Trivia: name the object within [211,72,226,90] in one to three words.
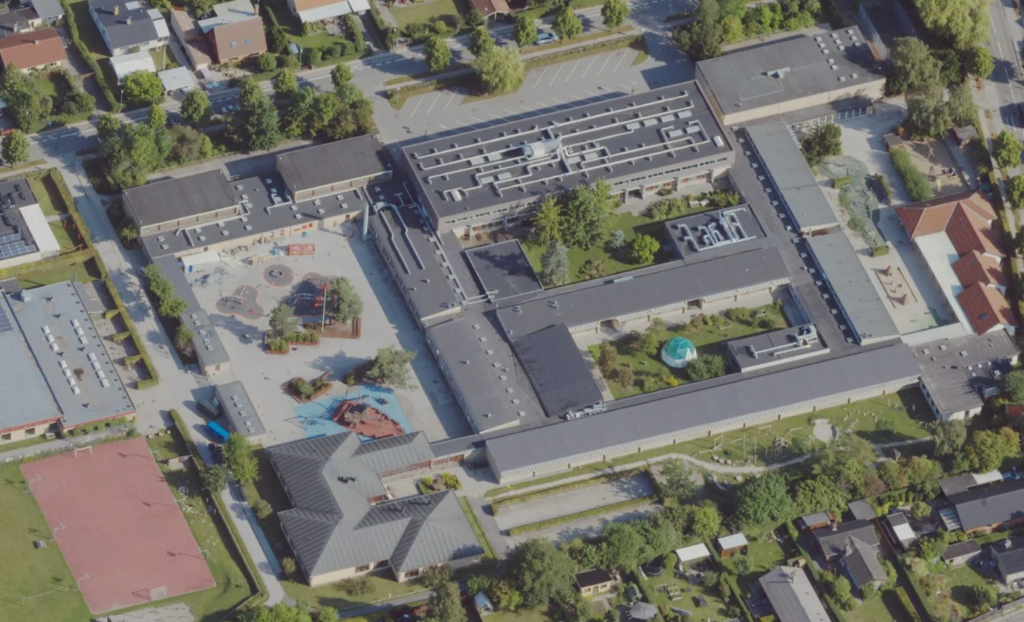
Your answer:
car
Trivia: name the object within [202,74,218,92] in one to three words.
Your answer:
car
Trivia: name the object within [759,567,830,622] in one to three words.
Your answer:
house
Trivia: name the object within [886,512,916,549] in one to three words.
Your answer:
shed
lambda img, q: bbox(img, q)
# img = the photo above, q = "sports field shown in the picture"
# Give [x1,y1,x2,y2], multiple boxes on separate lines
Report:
[21,436,217,615]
